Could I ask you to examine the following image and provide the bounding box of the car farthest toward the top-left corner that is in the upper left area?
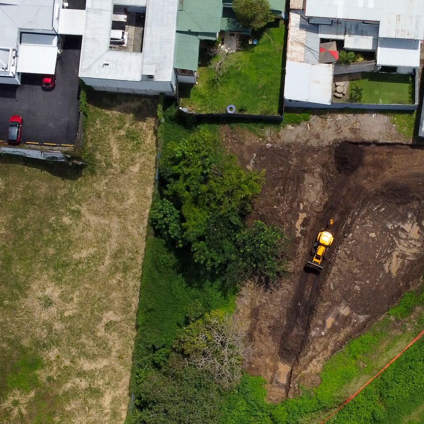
[41,73,56,93]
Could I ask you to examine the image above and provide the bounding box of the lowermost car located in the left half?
[8,115,24,145]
